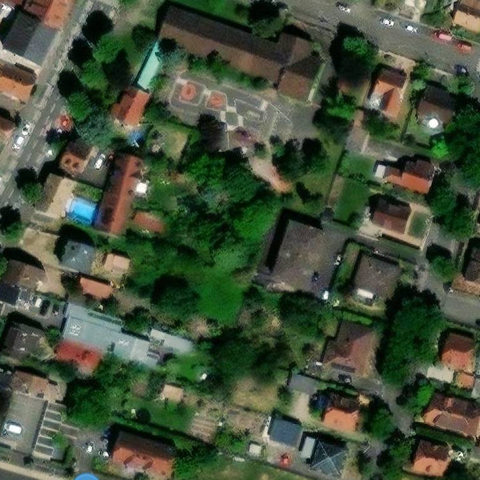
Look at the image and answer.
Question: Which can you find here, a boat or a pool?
pool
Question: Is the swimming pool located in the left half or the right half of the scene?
left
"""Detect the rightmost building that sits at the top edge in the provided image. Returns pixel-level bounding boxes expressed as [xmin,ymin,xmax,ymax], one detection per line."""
[446,0,480,29]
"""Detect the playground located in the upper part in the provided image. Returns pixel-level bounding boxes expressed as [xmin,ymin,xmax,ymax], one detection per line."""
[168,77,323,145]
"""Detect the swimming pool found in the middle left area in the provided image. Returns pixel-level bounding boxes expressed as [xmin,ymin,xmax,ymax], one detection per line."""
[69,197,103,225]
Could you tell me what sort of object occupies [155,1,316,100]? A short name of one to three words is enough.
building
